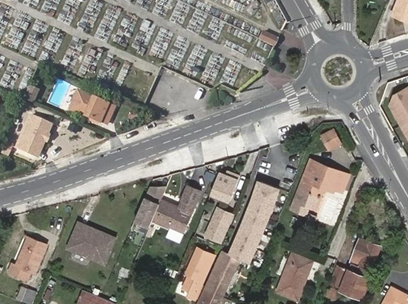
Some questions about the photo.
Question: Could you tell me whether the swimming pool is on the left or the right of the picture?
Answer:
left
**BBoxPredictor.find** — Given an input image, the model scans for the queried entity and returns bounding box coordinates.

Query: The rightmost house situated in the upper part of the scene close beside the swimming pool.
[68,90,118,126]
